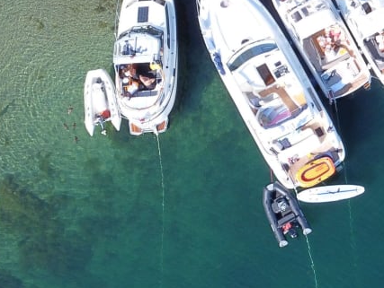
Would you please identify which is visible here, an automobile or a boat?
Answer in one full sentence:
This aerial view contains a boat.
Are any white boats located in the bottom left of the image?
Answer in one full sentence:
No, there's no white boat to be seen in the bottom left of the image.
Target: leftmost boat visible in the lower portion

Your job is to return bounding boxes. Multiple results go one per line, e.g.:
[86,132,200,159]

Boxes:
[265,183,306,244]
